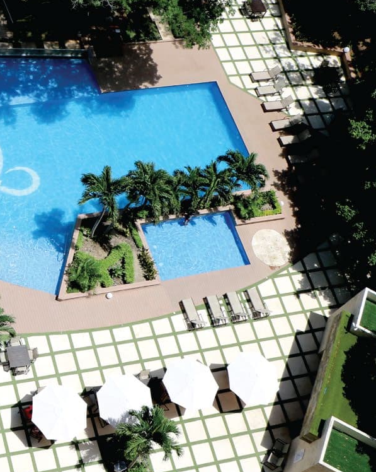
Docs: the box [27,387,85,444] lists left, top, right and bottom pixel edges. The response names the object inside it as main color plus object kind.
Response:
white umbrella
